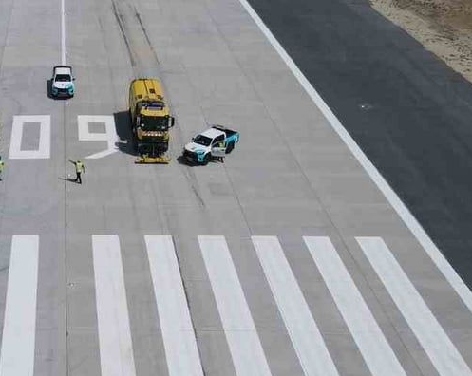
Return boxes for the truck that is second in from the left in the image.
[132,79,173,164]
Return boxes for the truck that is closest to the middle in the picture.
[183,125,238,161]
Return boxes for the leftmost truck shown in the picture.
[50,66,75,95]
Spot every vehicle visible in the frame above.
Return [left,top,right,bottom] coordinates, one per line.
[183,125,238,161]
[50,66,75,95]
[132,79,173,164]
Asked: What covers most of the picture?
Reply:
paved ground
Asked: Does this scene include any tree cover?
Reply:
No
